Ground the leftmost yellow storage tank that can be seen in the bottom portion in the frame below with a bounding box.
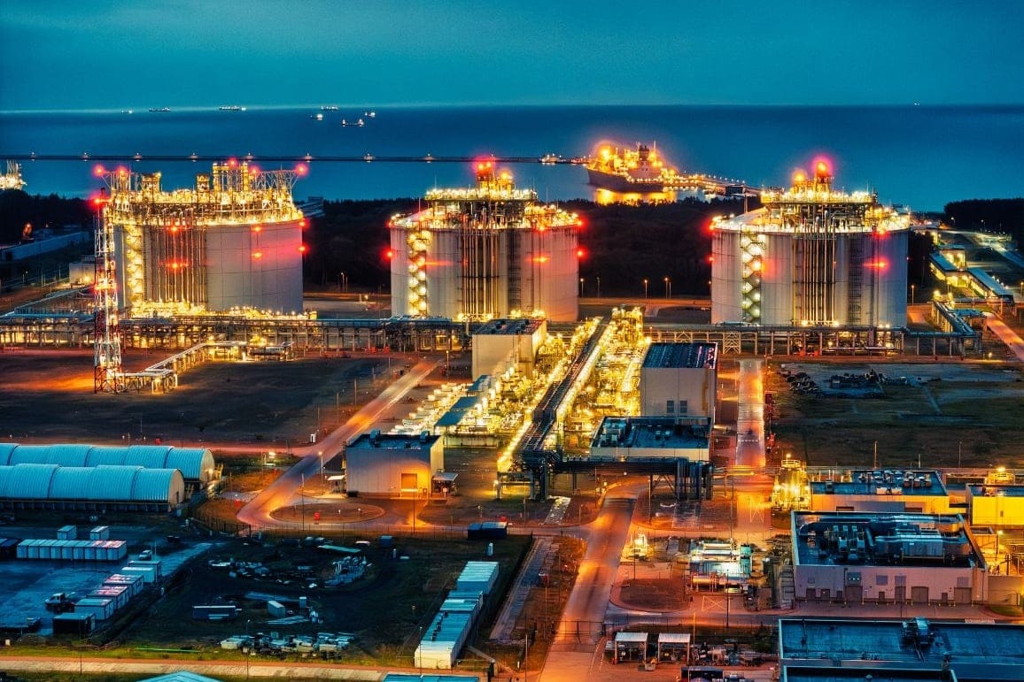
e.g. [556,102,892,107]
[772,464,811,512]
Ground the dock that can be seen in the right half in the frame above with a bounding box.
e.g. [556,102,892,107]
[679,172,890,204]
